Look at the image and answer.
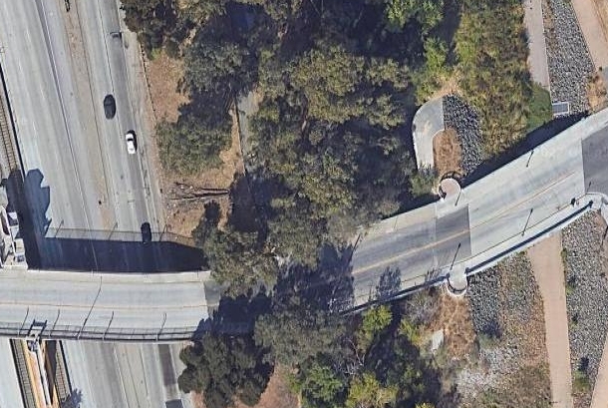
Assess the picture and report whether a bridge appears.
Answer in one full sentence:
Yes, a bridge is visible in the scene.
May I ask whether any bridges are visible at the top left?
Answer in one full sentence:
No, at the top left there is no bridge.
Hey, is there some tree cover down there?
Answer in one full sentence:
Yes, there's tree cover in this view.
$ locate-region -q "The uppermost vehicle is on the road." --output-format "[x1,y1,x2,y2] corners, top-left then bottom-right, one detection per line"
[103,94,116,118]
